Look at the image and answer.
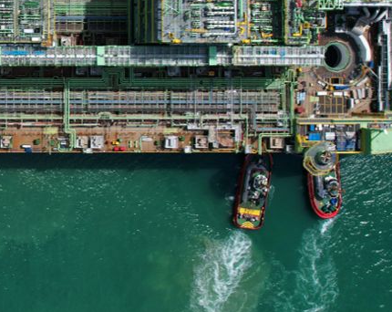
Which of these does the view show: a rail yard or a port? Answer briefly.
port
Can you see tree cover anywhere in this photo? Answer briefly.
No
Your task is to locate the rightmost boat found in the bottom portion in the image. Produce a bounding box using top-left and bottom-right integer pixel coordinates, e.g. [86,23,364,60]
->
[302,159,343,221]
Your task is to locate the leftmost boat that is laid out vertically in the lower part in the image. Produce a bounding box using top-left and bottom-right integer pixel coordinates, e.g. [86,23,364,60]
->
[228,153,272,233]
